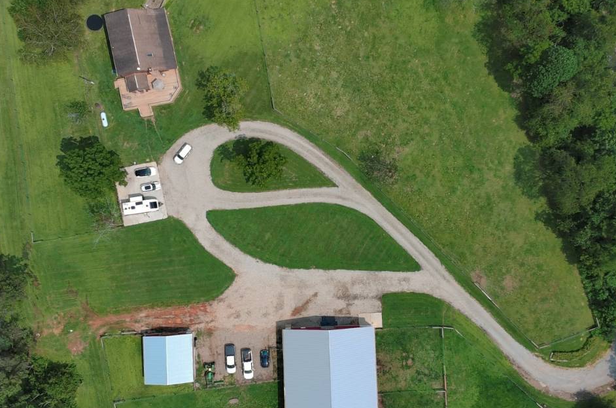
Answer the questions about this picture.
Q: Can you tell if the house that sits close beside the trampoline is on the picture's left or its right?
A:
left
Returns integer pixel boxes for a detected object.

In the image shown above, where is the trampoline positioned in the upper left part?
[86,14,103,31]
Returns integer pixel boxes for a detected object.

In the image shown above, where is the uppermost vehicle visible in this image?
[174,141,193,166]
